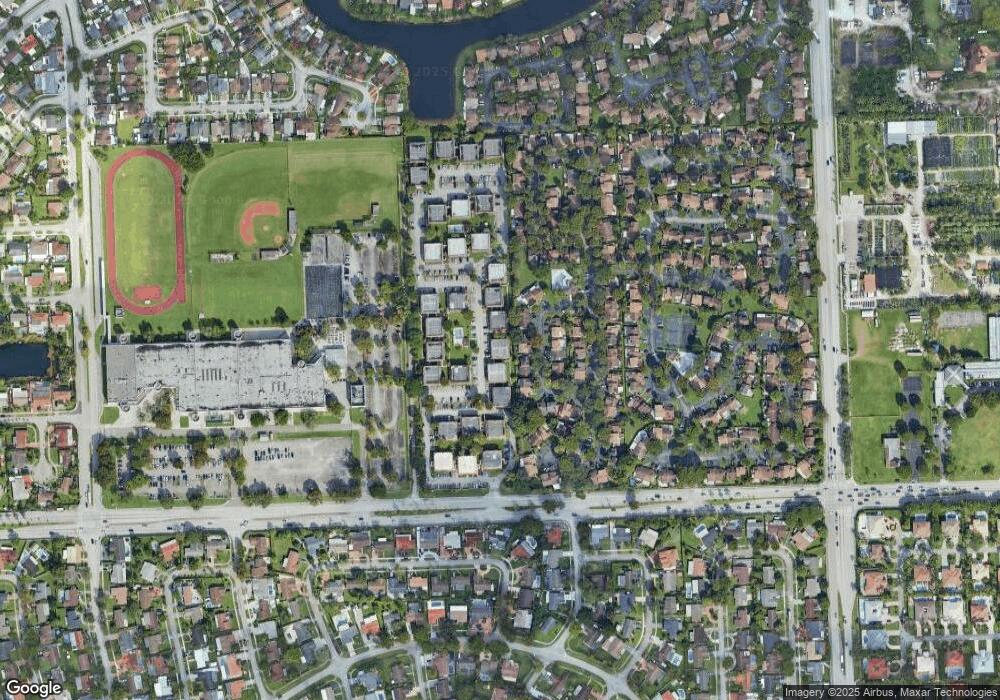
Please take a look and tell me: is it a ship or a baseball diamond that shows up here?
baseball diamond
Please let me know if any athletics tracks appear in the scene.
Yes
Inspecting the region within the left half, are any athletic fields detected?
Yes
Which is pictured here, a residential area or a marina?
residential area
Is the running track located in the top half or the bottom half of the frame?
top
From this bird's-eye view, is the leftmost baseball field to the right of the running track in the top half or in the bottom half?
top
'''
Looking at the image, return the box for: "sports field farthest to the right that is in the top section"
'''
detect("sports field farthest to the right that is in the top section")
[288,142,397,231]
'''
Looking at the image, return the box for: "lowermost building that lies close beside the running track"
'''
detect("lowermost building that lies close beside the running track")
[106,329,344,418]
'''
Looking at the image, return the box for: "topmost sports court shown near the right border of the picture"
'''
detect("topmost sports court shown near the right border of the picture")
[940,311,987,328]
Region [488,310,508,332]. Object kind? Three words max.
building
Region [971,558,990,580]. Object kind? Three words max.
house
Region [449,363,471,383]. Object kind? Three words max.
building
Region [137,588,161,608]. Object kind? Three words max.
house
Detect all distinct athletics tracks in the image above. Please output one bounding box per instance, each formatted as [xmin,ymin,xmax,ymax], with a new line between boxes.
[105,148,188,315]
